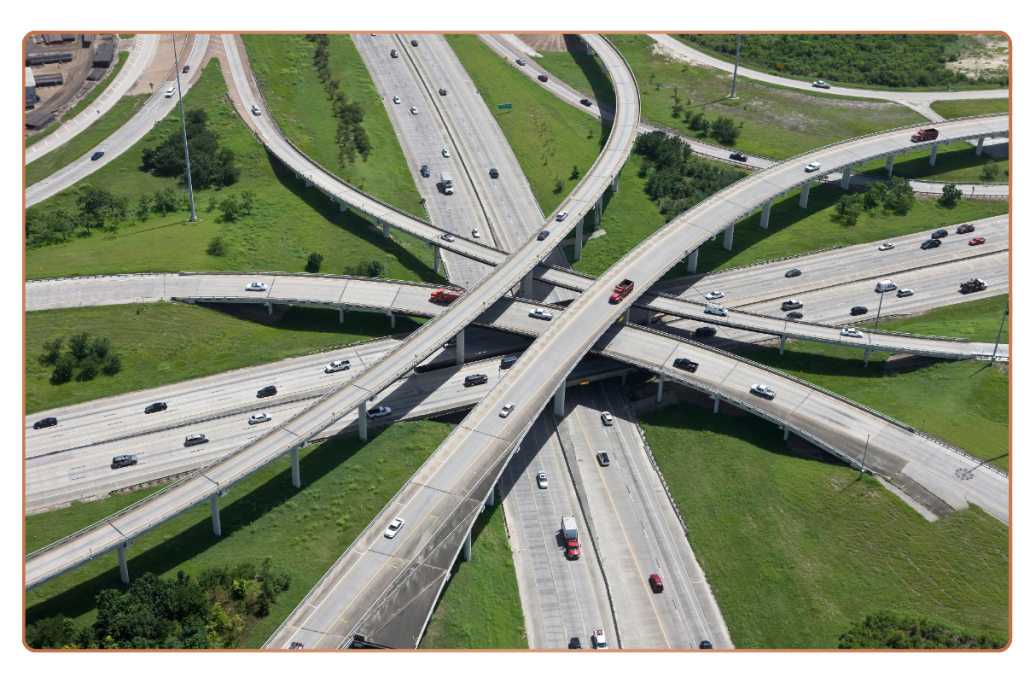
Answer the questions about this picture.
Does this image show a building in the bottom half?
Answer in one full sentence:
No, no building appears in the bottom half.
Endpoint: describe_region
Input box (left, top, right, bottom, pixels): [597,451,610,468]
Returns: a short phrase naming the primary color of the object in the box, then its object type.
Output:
gray vehicle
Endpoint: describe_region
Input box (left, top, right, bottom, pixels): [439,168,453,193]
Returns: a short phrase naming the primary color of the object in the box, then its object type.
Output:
white vehicle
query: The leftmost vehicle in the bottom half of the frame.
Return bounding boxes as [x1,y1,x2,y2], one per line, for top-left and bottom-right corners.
[33,416,57,430]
